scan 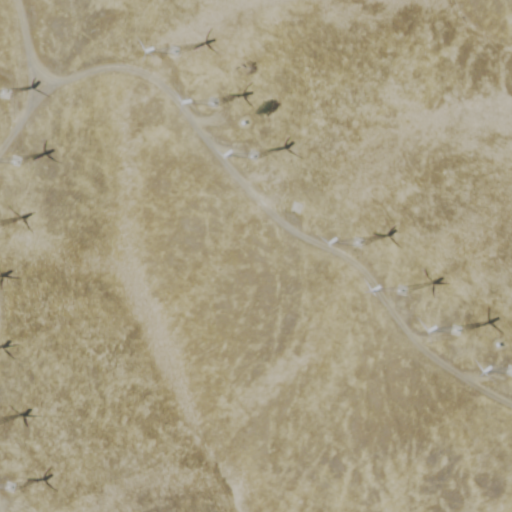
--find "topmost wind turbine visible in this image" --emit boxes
[141,36,180,63]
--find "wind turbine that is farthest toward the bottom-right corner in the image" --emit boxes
[476,359,512,384]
